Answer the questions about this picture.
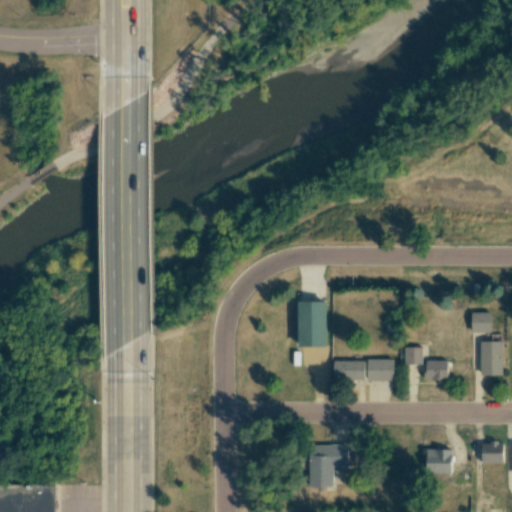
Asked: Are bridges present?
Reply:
Yes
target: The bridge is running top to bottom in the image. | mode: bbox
[98,82,158,362]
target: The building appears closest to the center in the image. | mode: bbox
[298,302,328,346]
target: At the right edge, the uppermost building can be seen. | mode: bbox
[472,312,492,334]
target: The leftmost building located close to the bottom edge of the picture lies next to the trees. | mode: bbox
[310,444,342,488]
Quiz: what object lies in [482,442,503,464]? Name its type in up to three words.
house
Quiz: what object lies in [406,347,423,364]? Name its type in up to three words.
building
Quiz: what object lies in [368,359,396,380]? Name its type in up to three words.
house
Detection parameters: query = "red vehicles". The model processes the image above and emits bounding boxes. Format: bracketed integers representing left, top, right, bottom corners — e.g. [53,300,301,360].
[131,8,138,24]
[486,402,500,408]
